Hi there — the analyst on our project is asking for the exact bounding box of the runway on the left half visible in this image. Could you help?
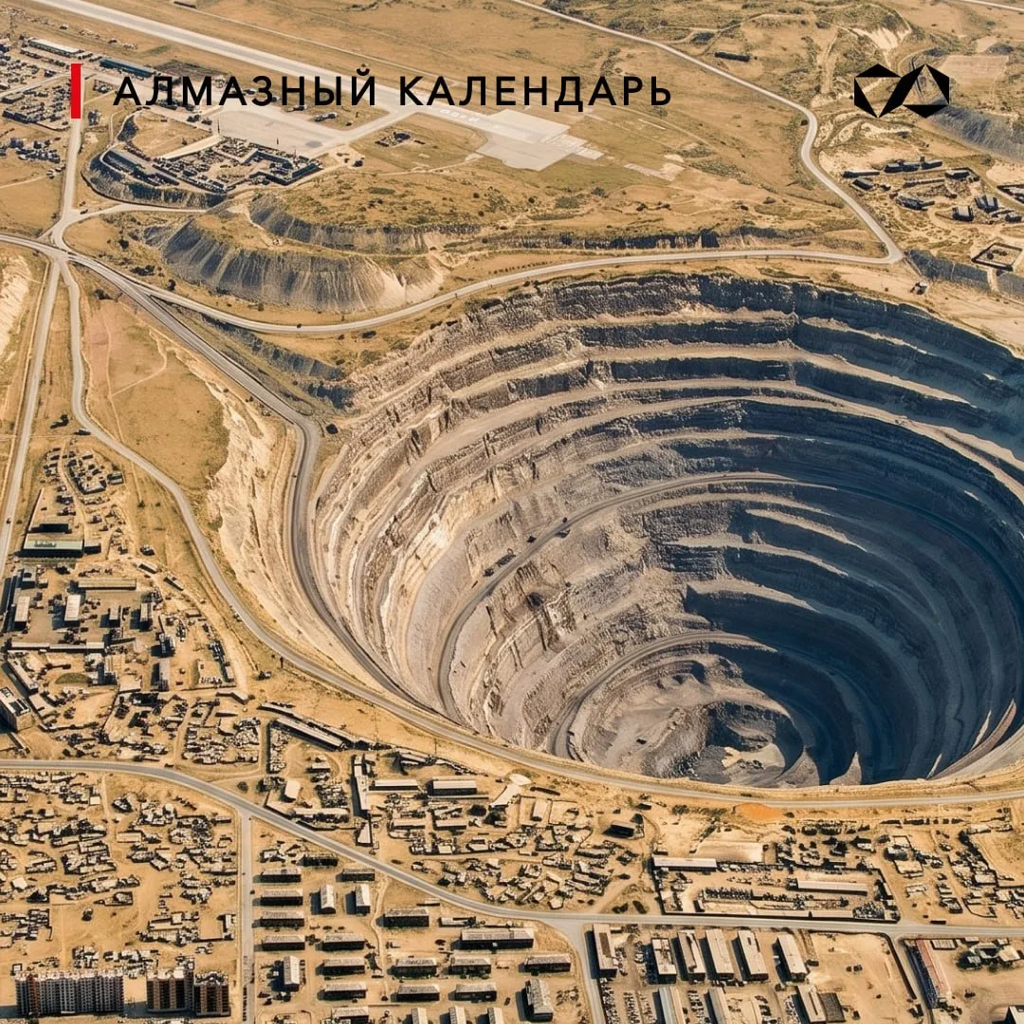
[55,0,563,139]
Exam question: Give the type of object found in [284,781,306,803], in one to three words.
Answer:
house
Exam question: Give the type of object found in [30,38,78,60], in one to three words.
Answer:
hangar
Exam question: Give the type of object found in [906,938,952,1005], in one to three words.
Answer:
building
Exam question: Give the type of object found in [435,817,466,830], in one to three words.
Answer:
shed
